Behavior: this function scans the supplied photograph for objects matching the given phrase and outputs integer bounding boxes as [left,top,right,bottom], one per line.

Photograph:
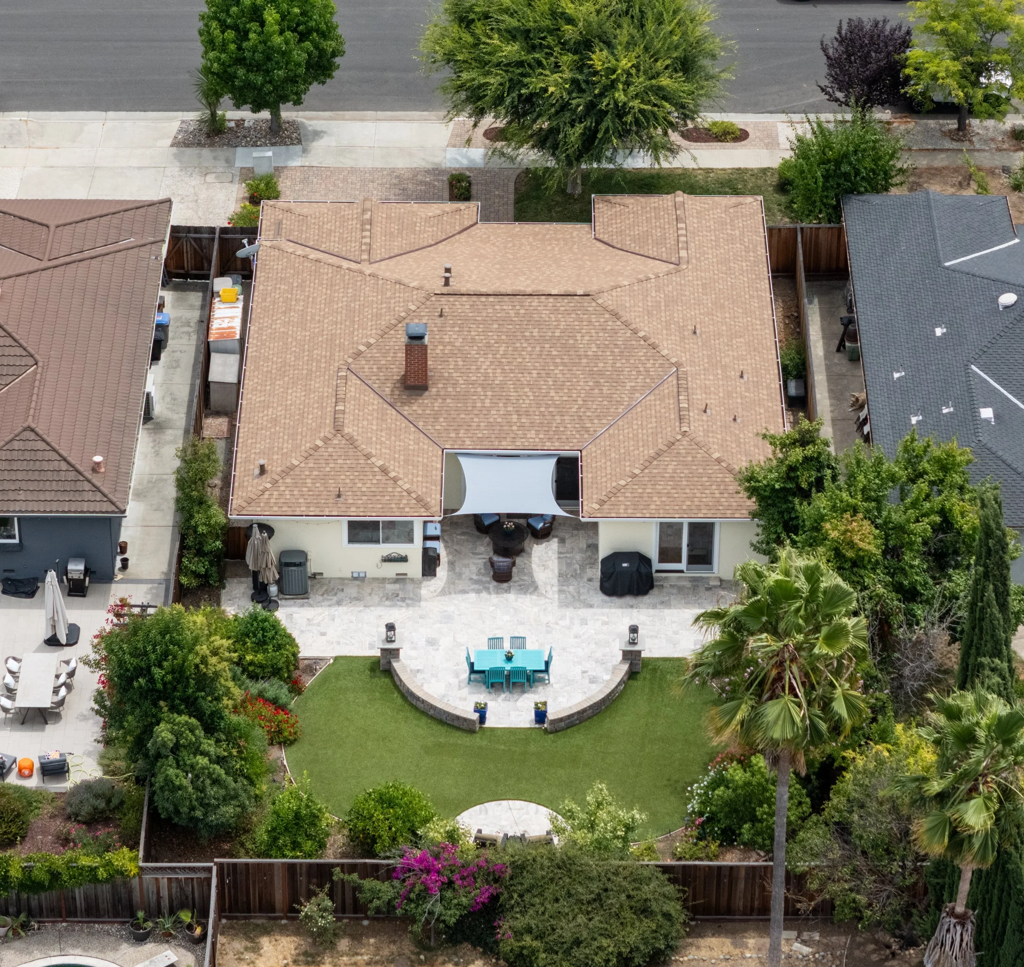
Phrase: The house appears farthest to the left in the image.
[0,195,175,580]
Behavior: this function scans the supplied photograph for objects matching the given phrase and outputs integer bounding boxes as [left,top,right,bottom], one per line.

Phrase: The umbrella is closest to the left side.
[44,560,80,644]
